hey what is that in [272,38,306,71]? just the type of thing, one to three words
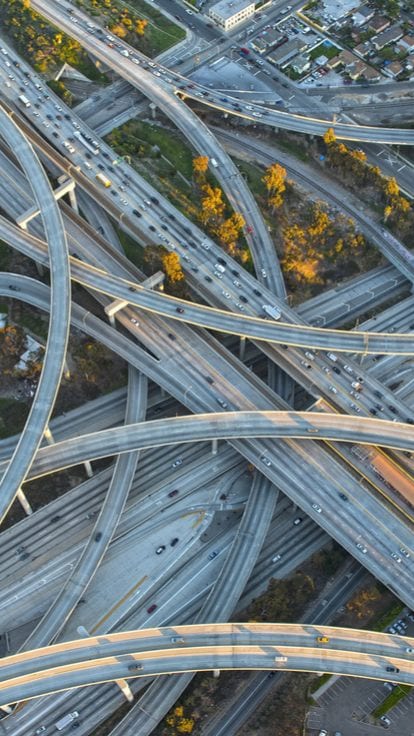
building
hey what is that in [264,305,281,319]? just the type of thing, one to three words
vehicle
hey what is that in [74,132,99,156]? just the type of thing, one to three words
truck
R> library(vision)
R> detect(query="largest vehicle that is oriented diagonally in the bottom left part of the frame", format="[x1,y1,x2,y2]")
[57,713,77,730]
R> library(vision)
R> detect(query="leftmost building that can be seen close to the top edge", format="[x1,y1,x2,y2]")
[208,0,245,31]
